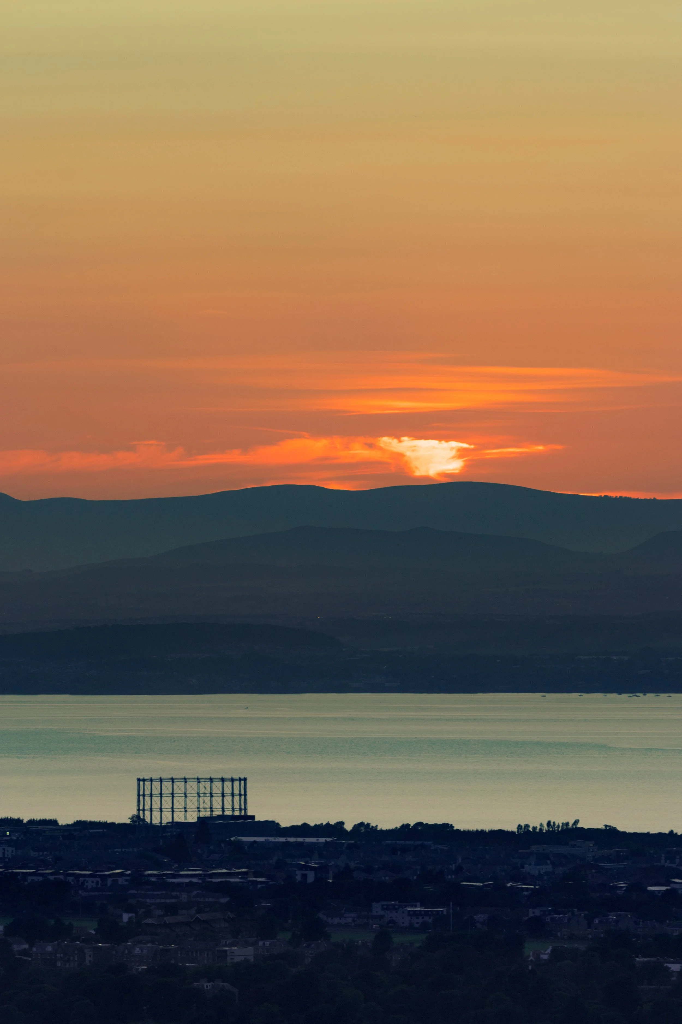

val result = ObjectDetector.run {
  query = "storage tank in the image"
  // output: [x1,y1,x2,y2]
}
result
[137,775,248,831]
